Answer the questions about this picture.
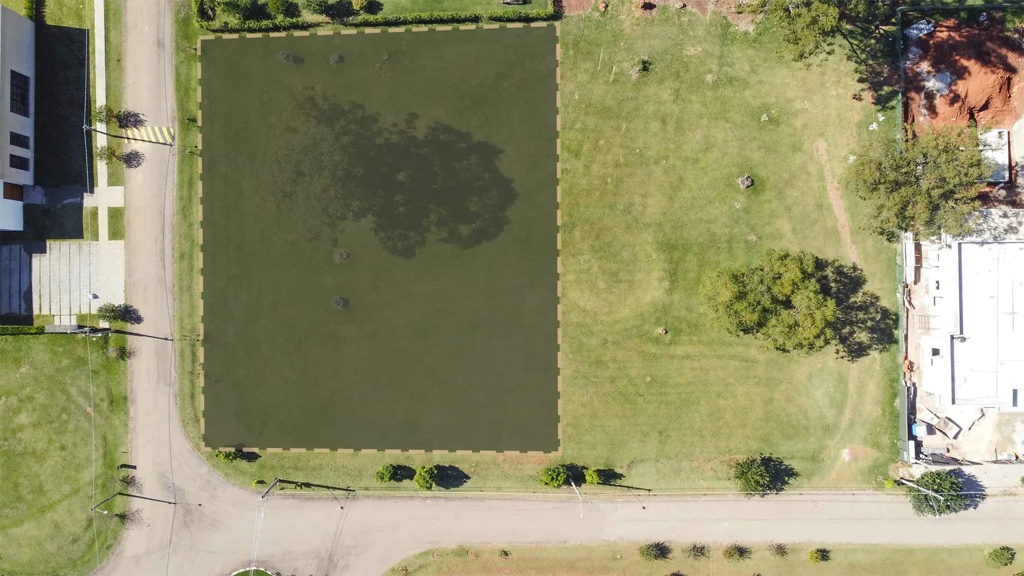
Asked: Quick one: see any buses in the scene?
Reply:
No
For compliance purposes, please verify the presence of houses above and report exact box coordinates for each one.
[0,4,35,230]
[918,212,1024,405]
